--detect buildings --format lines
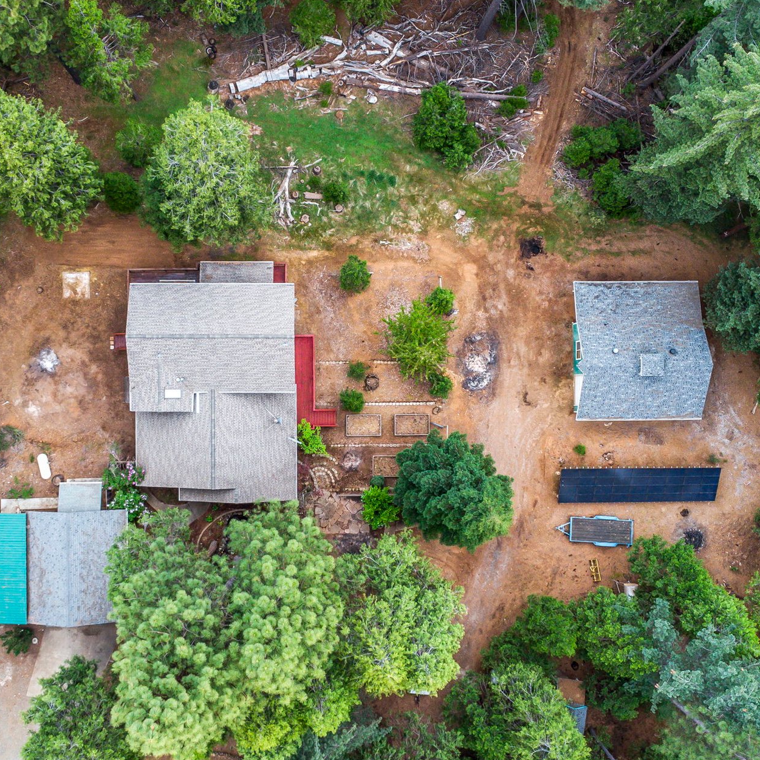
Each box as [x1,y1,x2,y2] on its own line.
[557,679,588,737]
[27,510,129,628]
[571,280,717,422]
[124,262,301,504]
